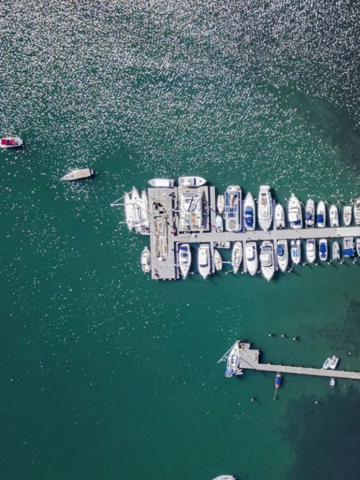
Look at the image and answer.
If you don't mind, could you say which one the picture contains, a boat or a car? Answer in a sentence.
Visible in the photo is a boat.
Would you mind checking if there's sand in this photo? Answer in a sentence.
No, the scene doesn't show any sand.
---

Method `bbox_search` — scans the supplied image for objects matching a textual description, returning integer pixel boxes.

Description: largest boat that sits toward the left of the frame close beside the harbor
[110,187,147,231]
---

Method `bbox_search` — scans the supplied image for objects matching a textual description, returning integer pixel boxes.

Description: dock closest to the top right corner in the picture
[177,187,209,231]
